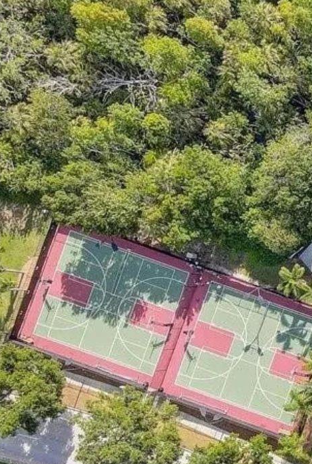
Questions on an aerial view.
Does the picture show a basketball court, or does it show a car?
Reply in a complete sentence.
This aerial view contains a basketball court.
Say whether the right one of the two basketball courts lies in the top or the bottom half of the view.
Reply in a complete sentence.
The bottom half of the photo is where the right one of the two basketball courts is.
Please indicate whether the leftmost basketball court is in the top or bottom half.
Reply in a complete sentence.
The leftmost basketball court is in the bottom half of the image.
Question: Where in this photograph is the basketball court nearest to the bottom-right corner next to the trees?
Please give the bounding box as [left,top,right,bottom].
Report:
[159,273,312,432]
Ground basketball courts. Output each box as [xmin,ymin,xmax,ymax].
[18,227,204,394]
[159,273,312,432]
